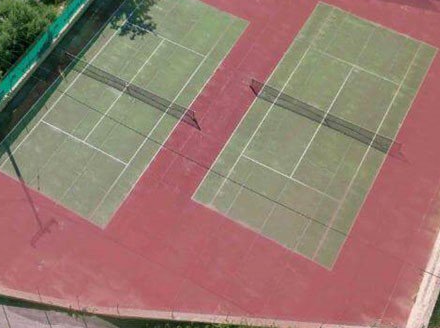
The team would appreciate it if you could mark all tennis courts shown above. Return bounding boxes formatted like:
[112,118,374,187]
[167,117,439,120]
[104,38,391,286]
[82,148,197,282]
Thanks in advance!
[0,0,249,228]
[193,2,438,269]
